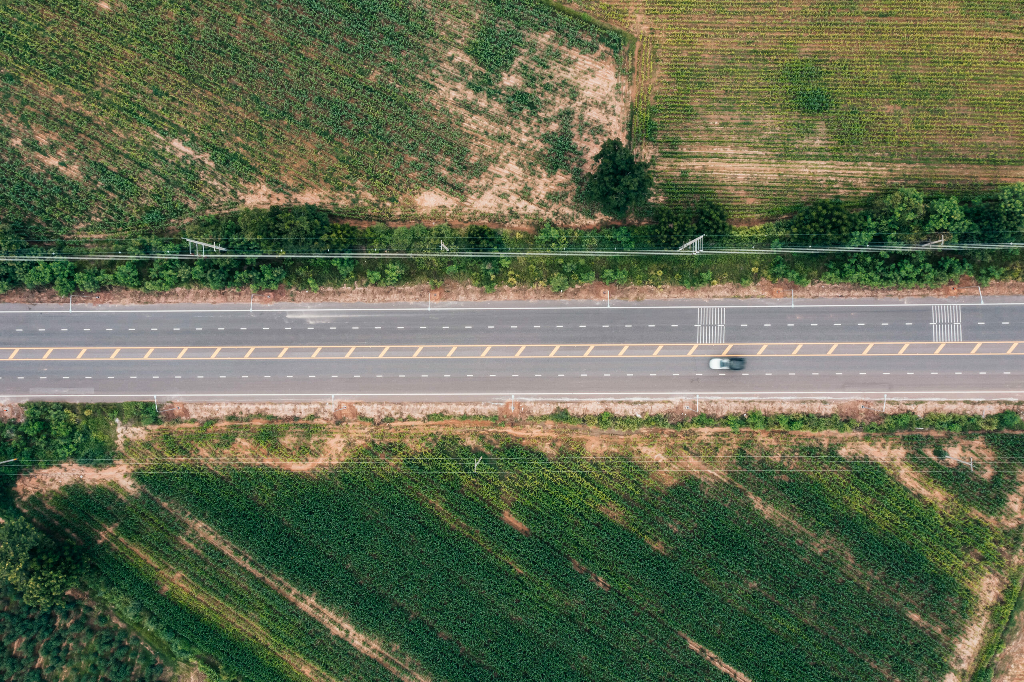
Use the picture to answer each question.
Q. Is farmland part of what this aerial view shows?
Yes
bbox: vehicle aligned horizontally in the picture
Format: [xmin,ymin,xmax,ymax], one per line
[709,357,746,370]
